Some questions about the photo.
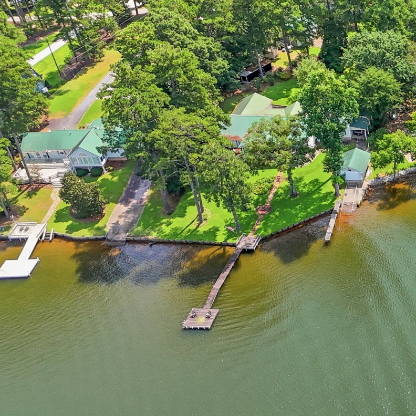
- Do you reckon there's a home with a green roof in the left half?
Yes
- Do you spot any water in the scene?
Yes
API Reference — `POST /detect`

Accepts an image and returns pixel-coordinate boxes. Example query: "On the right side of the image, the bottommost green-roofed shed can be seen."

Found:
[339,146,372,190]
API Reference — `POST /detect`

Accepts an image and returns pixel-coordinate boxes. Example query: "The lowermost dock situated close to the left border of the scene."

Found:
[0,221,44,279]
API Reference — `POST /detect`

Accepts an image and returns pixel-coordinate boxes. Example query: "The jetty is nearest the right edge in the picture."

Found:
[320,197,344,244]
